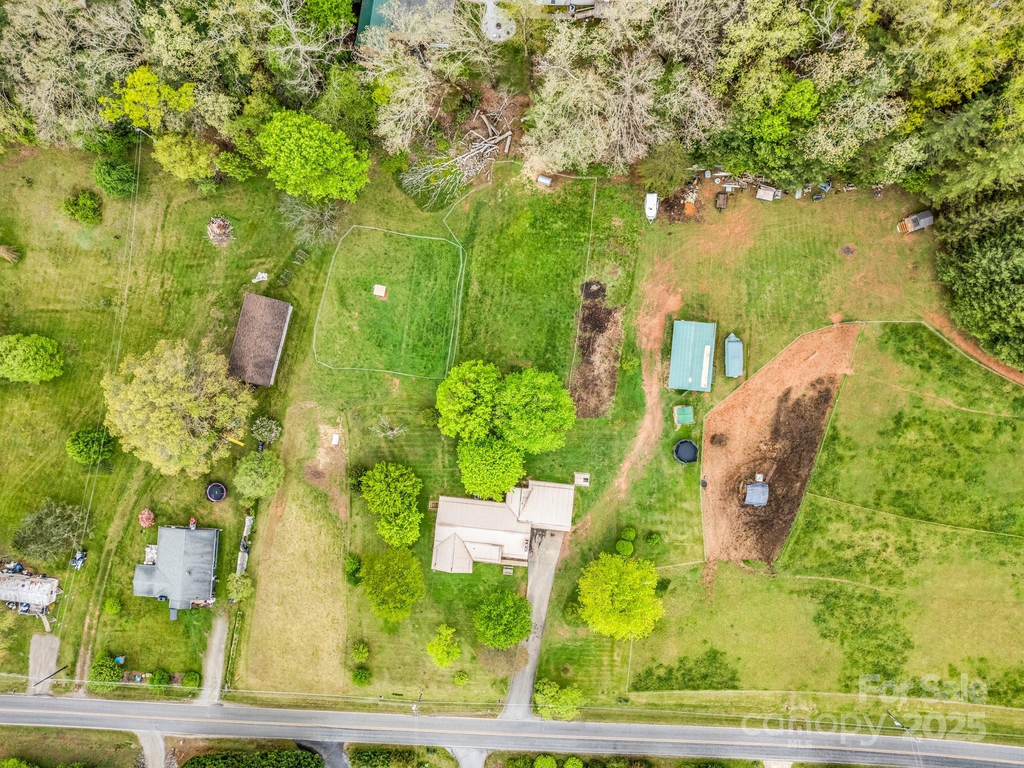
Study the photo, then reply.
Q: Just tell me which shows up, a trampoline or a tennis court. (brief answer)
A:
trampoline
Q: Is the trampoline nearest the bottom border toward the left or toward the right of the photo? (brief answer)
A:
left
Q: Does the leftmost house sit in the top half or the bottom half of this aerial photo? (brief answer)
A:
bottom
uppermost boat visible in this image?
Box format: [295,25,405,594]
[644,194,660,225]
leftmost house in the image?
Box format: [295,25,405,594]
[0,573,62,609]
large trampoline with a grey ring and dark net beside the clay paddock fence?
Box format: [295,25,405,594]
[675,441,699,466]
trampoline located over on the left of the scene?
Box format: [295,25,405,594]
[204,482,227,504]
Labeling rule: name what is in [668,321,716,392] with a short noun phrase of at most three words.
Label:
barn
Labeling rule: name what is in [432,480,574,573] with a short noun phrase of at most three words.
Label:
house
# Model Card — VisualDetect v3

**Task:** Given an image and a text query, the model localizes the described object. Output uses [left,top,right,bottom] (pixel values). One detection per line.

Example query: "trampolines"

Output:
[204,482,227,504]
[675,441,699,466]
